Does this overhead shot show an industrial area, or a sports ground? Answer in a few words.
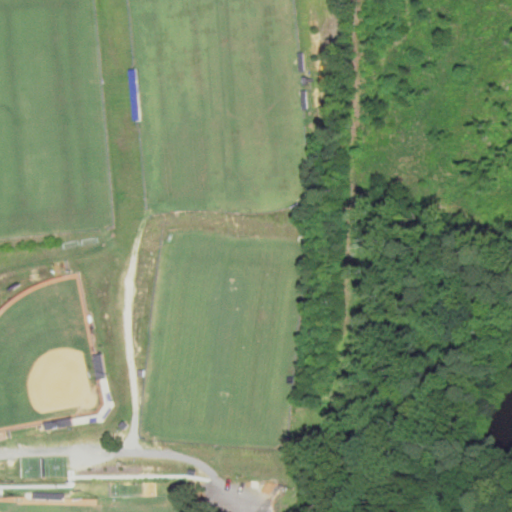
sports ground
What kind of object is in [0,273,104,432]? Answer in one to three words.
baseball field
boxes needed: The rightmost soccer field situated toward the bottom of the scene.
[142,232,300,446]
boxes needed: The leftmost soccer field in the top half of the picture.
[0,0,112,236]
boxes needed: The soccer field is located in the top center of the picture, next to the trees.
[130,0,306,214]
